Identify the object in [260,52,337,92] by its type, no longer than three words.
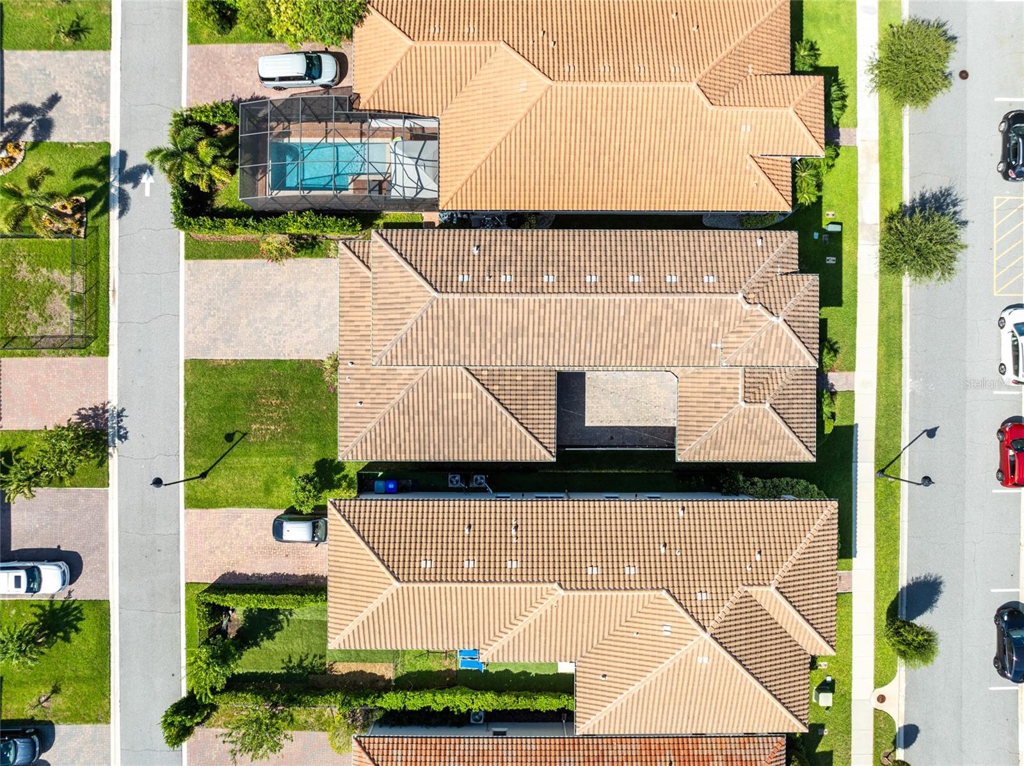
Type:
car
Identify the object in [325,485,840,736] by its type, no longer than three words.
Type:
house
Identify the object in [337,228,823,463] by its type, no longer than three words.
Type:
house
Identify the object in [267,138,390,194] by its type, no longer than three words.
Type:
swimming pool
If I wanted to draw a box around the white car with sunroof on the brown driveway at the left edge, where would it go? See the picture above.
[0,560,73,597]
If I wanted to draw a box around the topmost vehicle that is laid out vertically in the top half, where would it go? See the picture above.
[995,113,1024,183]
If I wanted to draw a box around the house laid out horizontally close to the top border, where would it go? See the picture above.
[351,0,828,214]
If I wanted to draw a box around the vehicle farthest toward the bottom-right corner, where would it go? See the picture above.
[991,601,1024,678]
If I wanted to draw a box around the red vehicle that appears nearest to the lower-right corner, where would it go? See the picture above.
[995,420,1024,487]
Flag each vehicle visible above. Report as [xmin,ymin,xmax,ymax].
[995,420,1024,487]
[260,52,337,92]
[274,513,326,548]
[991,601,1024,678]
[0,729,43,766]
[996,307,1024,385]
[995,113,1024,183]
[0,560,73,597]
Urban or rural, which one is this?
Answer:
urban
